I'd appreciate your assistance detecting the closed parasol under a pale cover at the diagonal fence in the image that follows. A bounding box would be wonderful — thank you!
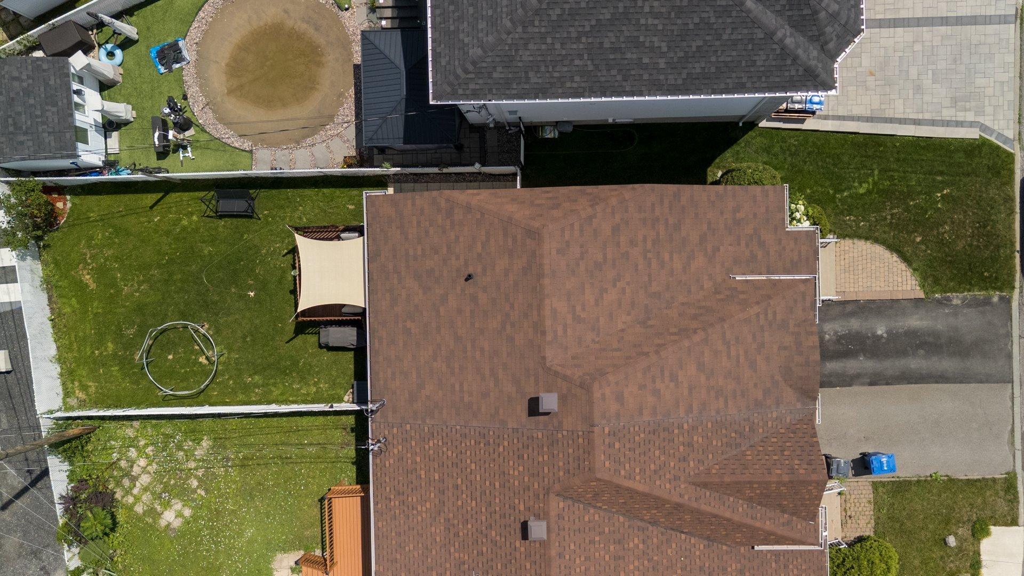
[86,10,141,44]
